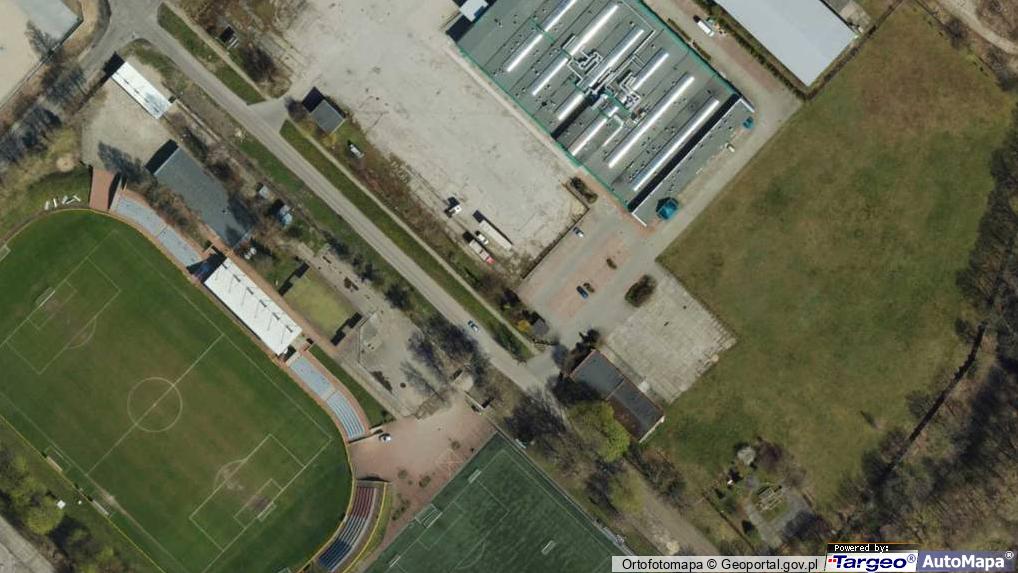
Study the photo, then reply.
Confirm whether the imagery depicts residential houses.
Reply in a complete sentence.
Yes, the image includes a residential house.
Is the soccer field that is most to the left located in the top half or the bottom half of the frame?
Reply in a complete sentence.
It is in the bottom half that the soccer field that is most to the left appears.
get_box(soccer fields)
[367,436,654,573]
[0,209,351,573]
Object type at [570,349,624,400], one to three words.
house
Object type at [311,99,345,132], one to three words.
shed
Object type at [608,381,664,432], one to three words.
building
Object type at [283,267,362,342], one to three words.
sports court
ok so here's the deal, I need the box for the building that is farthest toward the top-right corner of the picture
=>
[714,0,858,86]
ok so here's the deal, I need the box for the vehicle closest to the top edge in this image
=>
[698,19,713,35]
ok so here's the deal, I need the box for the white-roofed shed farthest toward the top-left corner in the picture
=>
[111,61,171,118]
